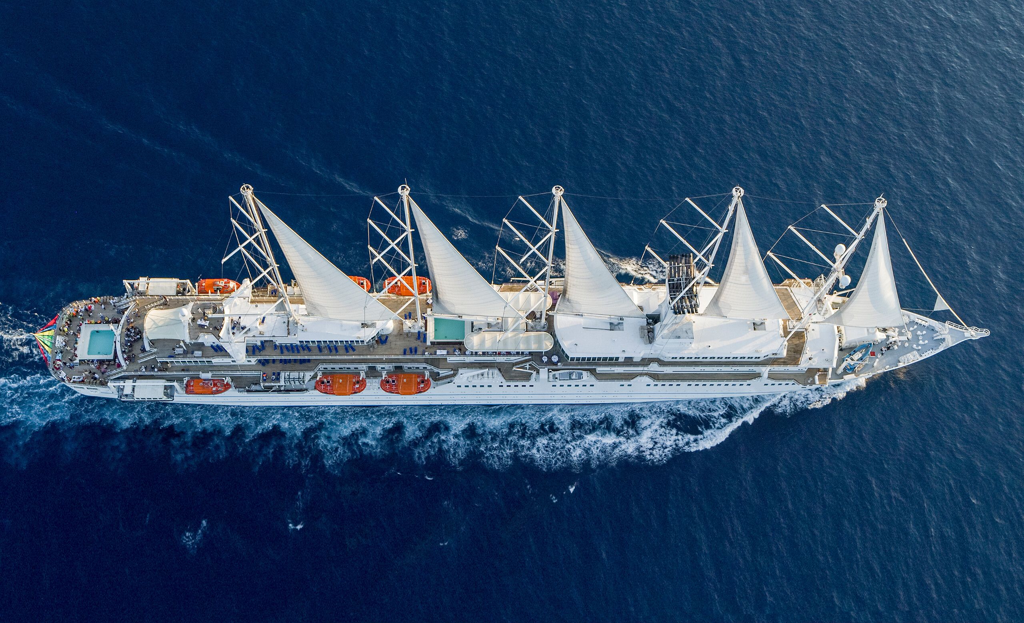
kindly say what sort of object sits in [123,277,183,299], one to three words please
boat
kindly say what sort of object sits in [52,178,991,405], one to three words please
ship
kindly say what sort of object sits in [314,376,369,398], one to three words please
boat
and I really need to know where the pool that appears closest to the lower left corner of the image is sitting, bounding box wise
[80,324,118,370]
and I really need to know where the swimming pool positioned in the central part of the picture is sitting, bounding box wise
[425,308,485,349]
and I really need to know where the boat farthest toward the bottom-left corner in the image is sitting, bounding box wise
[115,377,179,404]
